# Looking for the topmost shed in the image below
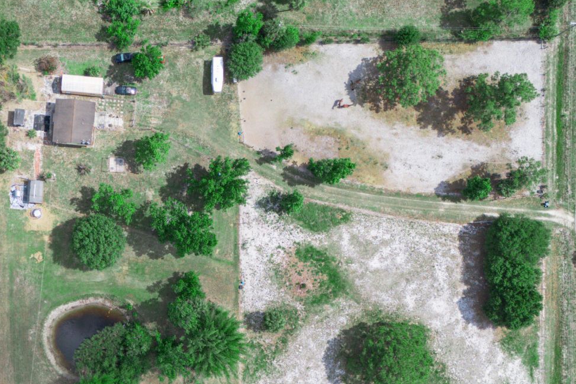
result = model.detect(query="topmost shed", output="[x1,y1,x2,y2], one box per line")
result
[61,75,103,98]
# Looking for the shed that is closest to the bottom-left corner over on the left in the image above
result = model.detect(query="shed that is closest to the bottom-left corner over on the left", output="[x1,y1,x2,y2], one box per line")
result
[29,180,44,204]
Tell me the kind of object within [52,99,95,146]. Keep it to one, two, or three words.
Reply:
house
